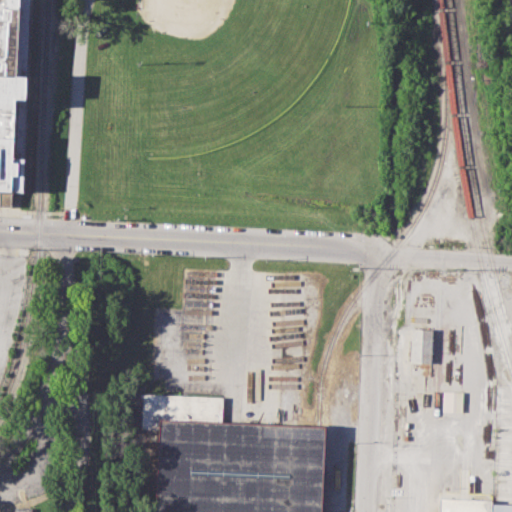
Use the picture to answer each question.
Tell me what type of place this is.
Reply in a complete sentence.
What you see here is a sports ground.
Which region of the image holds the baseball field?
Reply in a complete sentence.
Look in the top portion of the view to spot the baseball field.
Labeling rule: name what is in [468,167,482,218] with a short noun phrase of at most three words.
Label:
rail car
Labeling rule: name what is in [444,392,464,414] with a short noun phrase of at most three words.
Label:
building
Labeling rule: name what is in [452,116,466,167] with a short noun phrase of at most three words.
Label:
rail car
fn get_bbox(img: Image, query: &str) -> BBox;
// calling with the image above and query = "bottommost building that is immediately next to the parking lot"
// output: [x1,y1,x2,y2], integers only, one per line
[156,421,328,512]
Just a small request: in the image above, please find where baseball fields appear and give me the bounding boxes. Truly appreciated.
[78,0,385,234]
